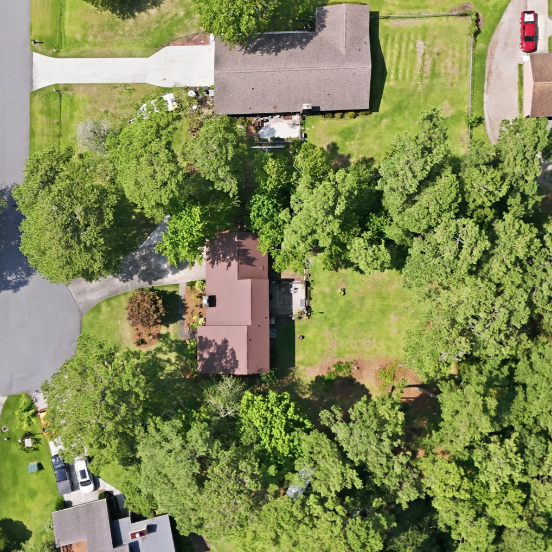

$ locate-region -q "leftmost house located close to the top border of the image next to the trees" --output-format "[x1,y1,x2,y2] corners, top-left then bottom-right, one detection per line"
[214,3,372,119]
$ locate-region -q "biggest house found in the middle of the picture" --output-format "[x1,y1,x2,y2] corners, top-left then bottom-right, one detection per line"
[196,231,270,374]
